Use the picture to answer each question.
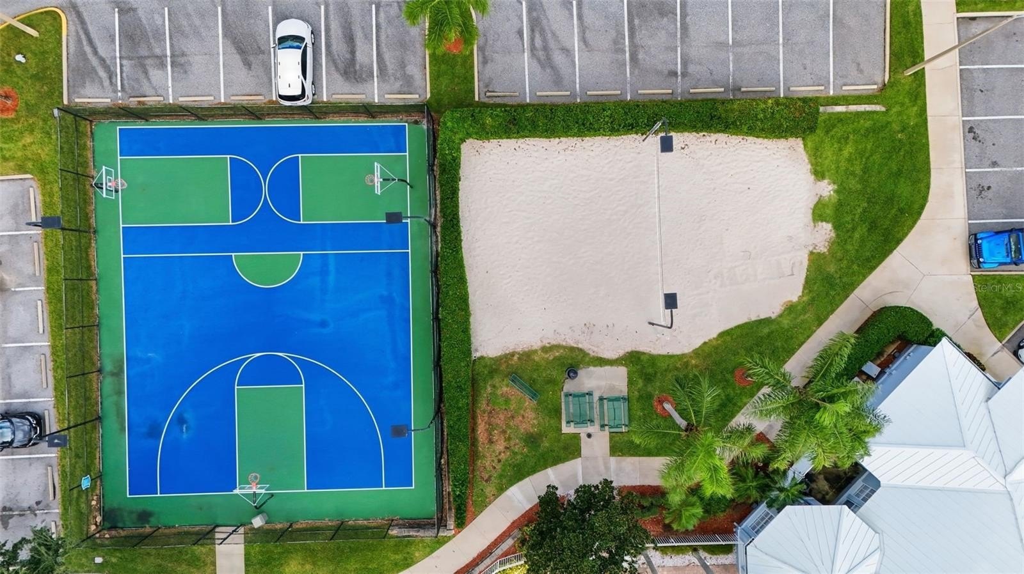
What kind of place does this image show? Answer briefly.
sports ground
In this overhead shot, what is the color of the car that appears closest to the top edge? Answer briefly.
white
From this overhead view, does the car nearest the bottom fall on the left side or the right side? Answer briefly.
left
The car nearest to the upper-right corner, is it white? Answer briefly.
No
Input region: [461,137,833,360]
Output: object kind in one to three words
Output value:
sports court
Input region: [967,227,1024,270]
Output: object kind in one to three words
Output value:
car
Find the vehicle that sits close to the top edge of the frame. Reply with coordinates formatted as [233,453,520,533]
[267,19,314,105]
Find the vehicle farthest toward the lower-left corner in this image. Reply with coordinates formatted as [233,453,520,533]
[0,410,45,456]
